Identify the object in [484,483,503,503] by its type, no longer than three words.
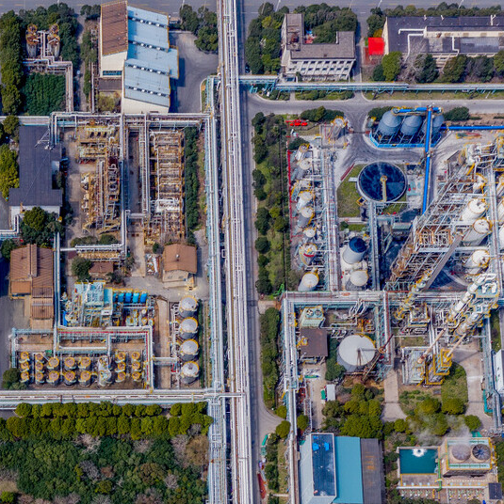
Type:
shed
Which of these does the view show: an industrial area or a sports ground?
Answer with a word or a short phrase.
industrial area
